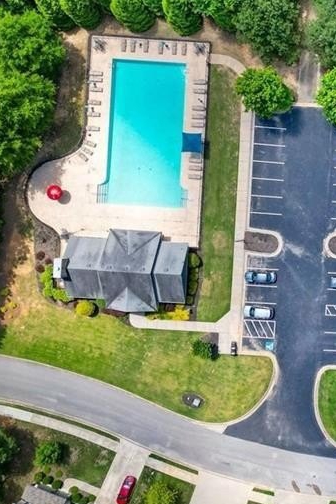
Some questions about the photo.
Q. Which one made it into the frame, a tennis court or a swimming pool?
swimming pool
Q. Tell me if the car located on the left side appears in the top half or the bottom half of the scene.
bottom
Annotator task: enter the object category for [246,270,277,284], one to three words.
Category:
car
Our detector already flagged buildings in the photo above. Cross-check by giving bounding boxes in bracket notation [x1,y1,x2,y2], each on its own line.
[13,481,75,504]
[51,230,194,312]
